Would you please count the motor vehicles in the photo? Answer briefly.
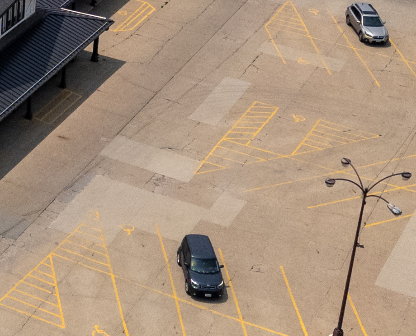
2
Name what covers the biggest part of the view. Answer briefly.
paved ground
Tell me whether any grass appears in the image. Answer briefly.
No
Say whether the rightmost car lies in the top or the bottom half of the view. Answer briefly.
top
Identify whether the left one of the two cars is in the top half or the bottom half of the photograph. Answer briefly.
bottom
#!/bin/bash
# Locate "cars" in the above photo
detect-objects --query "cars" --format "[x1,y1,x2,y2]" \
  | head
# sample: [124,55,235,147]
[178,234,226,301]
[346,2,388,44]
